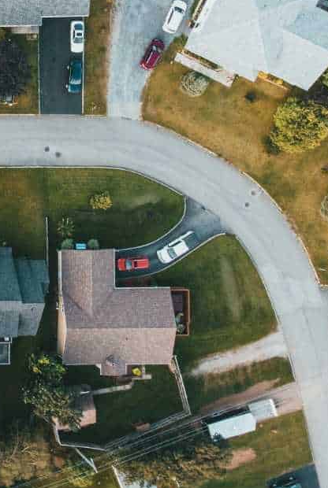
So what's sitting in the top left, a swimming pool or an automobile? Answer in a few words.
automobile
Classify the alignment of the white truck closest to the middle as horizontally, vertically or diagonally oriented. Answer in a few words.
diagonally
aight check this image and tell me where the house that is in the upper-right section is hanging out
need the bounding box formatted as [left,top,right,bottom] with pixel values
[176,0,328,91]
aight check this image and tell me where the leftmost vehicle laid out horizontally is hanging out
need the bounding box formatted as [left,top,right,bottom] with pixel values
[115,256,151,273]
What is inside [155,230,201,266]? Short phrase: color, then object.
white truck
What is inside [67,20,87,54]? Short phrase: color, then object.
white car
